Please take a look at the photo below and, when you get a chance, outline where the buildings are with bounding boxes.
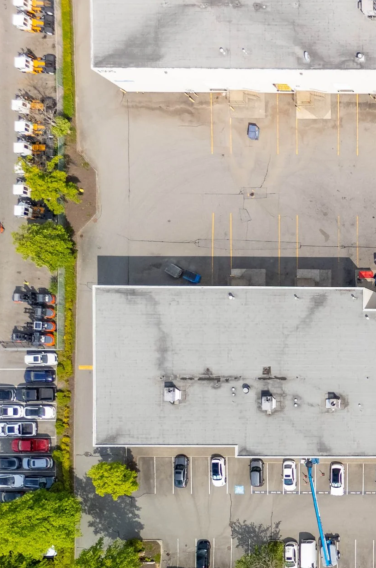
[91,0,376,94]
[92,285,376,458]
